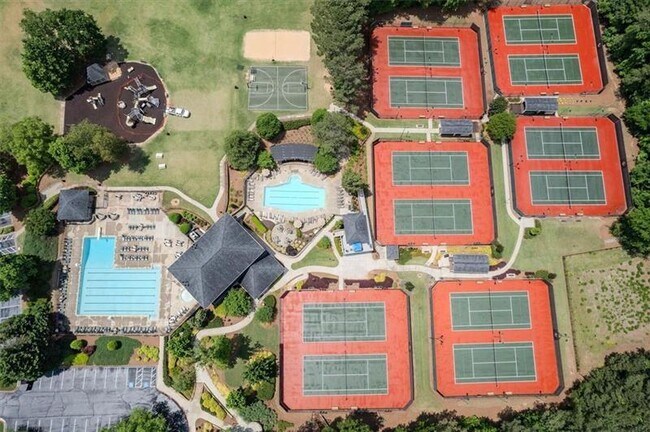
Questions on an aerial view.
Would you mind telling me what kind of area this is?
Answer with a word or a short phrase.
sports ground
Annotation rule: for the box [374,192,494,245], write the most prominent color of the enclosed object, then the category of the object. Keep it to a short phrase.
red tennis court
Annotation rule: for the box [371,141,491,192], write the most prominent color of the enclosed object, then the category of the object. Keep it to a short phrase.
red tennis court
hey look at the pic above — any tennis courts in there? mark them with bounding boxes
[281,290,408,349]
[505,116,621,165]
[369,70,484,119]
[430,335,560,396]
[508,165,628,216]
[371,141,491,192]
[484,4,596,49]
[428,279,554,337]
[488,48,603,96]
[281,347,411,410]
[368,25,481,72]
[374,192,494,245]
